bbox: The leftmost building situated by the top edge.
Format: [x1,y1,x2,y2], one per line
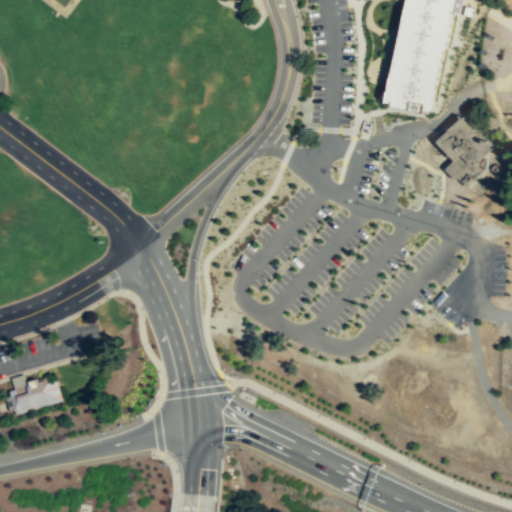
[384,0,460,114]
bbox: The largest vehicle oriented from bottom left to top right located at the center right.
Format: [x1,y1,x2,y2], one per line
[434,290,448,306]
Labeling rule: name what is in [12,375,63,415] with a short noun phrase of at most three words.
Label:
house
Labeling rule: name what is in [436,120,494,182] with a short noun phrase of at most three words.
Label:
building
